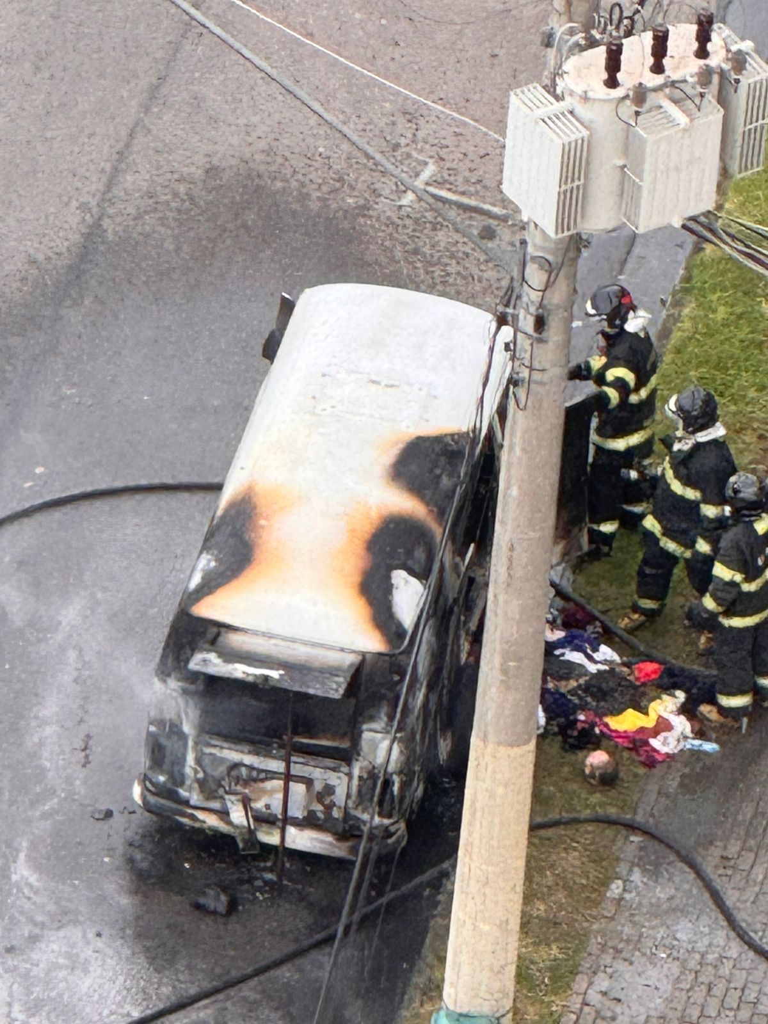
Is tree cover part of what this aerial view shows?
No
